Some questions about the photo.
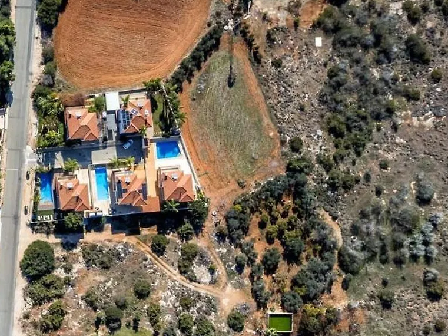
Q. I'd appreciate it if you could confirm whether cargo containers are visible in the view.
No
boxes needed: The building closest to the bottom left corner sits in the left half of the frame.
[56,174,90,211]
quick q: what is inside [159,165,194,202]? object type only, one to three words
house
